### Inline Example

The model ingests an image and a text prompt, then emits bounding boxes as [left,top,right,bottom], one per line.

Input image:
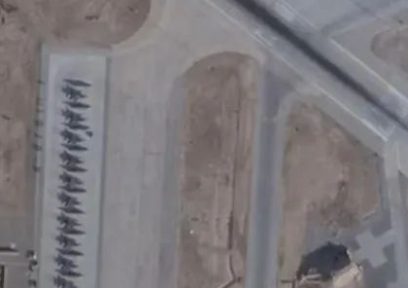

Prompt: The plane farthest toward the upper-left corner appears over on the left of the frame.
[67,87,88,99]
